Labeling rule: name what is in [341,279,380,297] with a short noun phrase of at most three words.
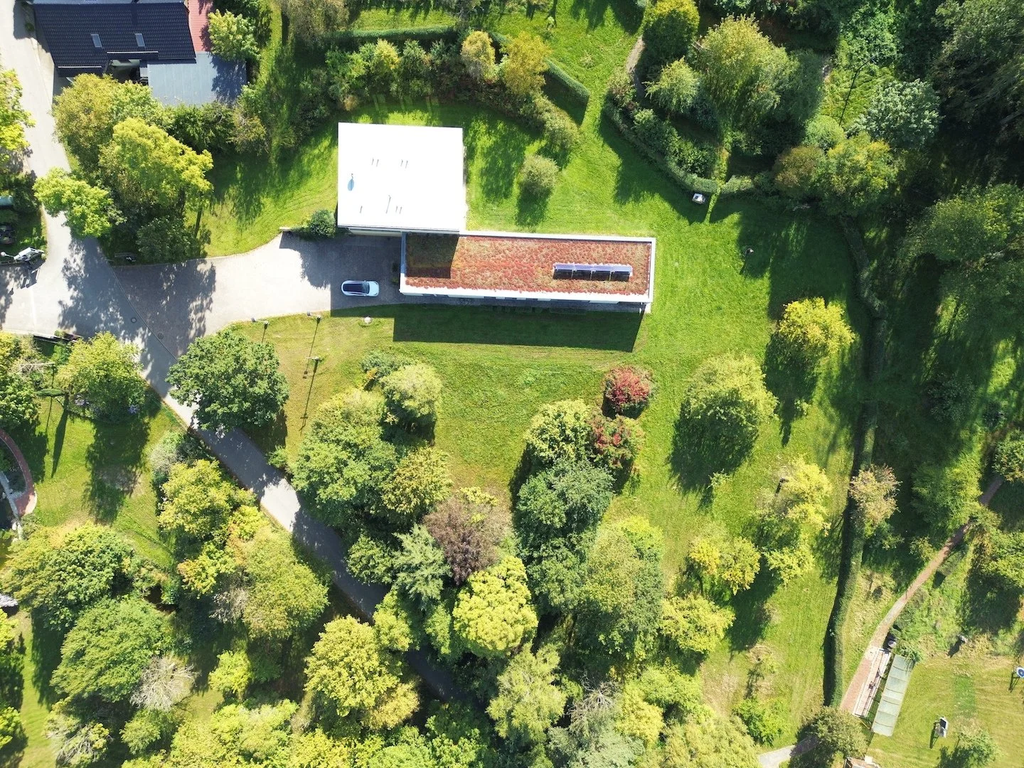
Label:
car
